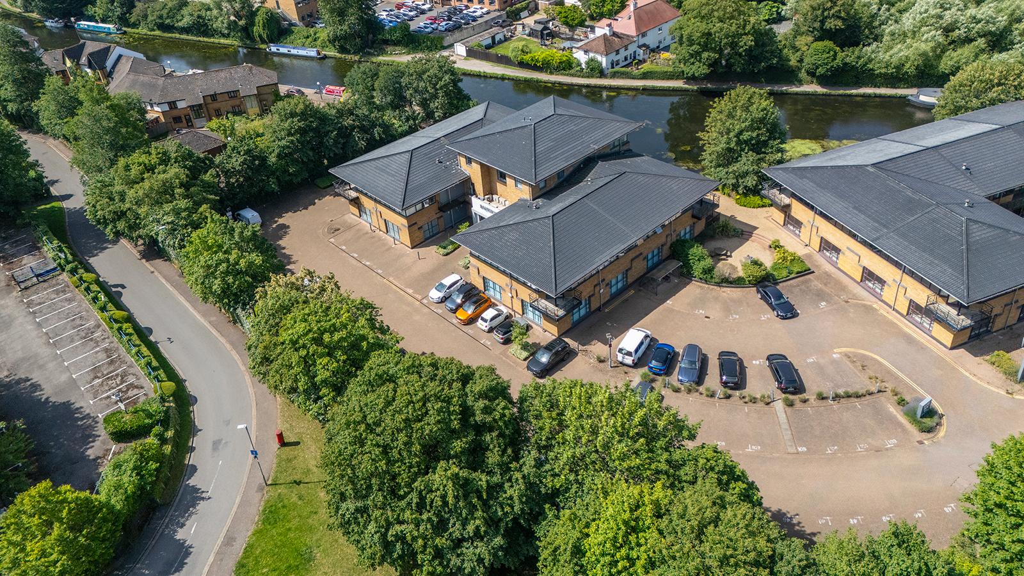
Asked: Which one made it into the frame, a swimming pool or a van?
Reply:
van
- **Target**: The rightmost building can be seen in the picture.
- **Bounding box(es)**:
[766,95,1024,349]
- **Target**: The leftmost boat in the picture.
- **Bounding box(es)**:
[40,17,68,30]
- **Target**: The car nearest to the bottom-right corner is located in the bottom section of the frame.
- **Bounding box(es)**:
[764,353,803,397]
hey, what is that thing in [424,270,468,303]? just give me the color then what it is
white car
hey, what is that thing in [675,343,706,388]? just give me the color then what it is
blue car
